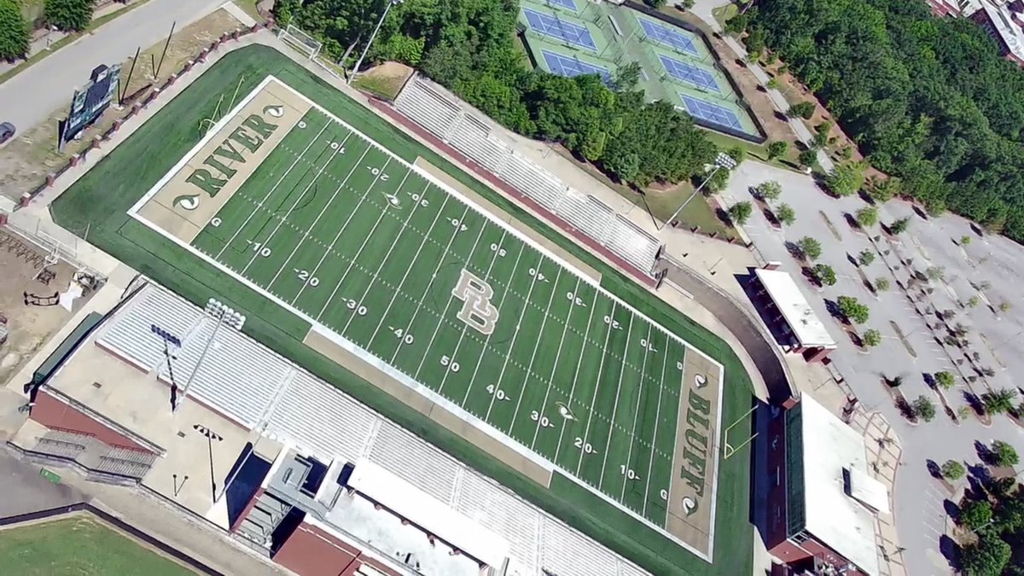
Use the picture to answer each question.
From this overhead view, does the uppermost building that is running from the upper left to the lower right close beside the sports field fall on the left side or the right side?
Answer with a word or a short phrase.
right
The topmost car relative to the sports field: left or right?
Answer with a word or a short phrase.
to its left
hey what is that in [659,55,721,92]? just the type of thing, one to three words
tennis court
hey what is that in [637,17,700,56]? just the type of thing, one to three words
tennis court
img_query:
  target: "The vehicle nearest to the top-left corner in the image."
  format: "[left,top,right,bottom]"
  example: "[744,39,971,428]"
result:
[0,122,20,143]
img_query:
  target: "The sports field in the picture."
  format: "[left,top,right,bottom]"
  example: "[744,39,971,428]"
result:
[51,47,756,576]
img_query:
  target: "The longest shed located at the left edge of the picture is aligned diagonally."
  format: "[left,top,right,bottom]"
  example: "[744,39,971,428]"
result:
[28,307,105,397]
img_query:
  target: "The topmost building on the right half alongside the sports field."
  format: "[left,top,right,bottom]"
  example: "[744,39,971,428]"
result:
[745,270,836,357]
